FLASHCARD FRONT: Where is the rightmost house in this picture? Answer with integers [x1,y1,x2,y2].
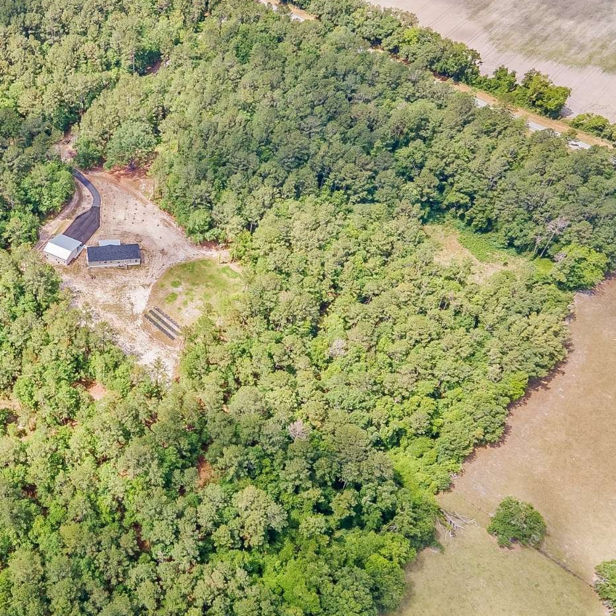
[87,237,142,270]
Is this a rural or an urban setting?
rural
